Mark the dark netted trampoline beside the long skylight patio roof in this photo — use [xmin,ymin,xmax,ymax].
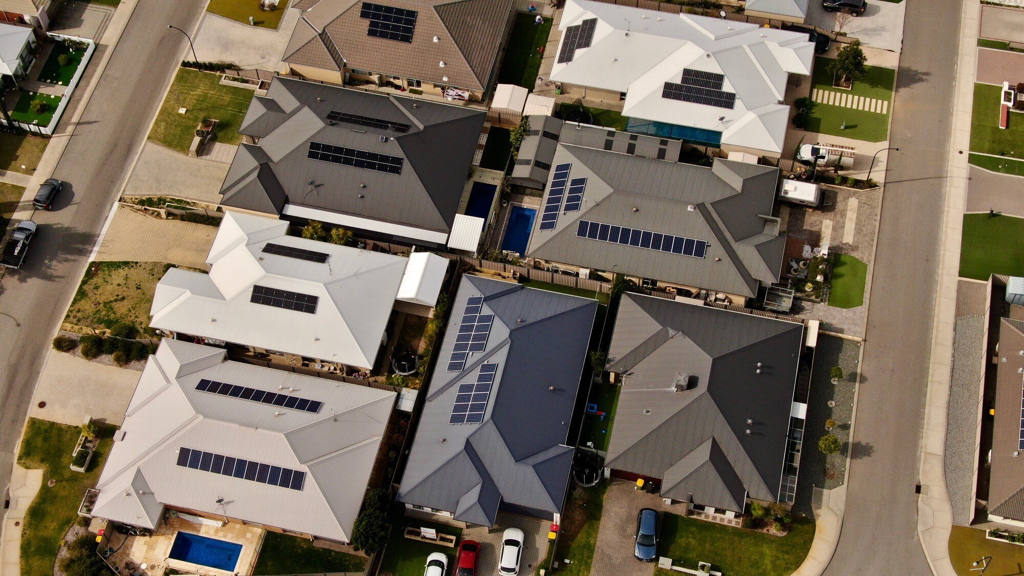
[565,90,593,126]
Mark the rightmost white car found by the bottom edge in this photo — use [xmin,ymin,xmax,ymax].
[498,527,526,576]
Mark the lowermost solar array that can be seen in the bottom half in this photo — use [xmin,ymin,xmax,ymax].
[177,447,306,490]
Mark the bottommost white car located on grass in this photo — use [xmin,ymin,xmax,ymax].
[421,551,448,576]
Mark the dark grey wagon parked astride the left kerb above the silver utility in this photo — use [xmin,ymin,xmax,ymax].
[33,178,62,210]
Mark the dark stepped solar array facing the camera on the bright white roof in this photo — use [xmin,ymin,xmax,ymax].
[662,69,736,109]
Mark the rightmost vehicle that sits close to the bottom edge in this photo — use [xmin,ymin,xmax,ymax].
[633,507,660,564]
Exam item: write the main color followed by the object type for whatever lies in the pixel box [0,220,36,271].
black truck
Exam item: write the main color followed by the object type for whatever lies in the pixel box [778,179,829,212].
white camper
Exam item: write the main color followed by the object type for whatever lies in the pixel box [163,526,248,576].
blue swimming pool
